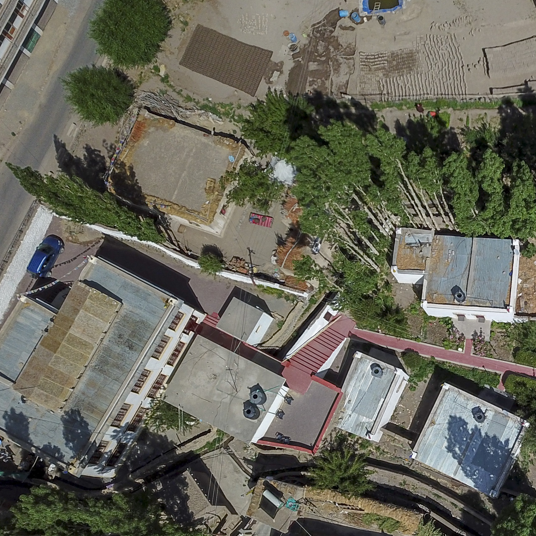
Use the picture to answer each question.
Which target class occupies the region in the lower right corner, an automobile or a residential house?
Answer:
residential house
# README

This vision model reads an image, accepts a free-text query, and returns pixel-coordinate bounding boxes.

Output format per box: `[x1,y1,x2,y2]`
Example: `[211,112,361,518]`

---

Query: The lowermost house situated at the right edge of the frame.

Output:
[413,384,529,499]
